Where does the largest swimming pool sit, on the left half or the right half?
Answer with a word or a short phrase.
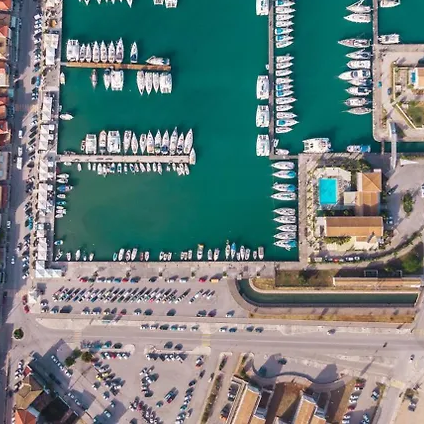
right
